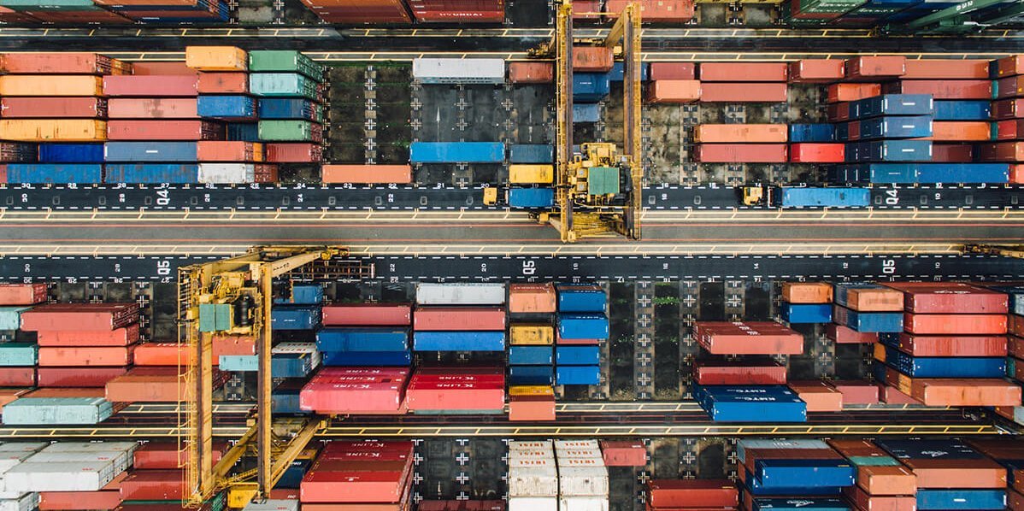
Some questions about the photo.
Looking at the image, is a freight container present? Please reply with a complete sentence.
Yes, the image includes a freight container.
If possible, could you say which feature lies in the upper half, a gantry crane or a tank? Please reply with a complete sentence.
The one visible in the upper half is a gantry crane.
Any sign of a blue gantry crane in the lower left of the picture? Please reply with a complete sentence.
No, no blue gantry crane can be made out in the lower left of the picture.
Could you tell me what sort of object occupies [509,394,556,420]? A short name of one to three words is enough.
shipping container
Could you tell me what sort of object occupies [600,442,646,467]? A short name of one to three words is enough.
shipping container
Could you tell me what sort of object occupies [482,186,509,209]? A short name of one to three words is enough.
truck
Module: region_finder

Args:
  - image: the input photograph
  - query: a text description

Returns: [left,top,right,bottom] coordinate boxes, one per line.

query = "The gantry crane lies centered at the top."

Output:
[529,1,644,242]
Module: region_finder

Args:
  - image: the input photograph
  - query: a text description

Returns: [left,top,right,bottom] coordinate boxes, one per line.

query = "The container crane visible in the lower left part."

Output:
[175,241,349,508]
